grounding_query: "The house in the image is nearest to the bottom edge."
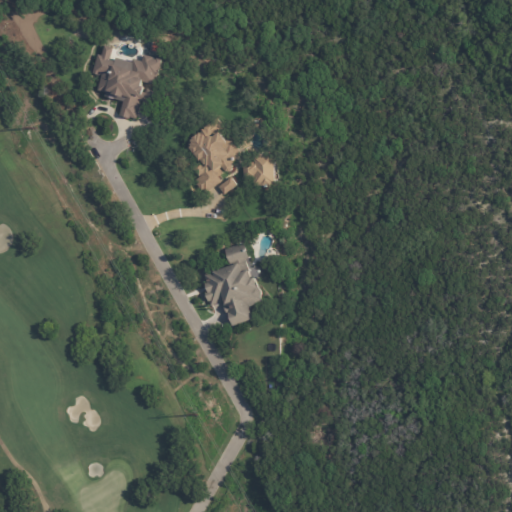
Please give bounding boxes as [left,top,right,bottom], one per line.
[204,246,262,326]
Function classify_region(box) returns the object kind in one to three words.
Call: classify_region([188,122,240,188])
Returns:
house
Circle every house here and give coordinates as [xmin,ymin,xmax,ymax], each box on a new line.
[95,44,165,122]
[244,158,276,187]
[204,246,262,326]
[188,122,240,188]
